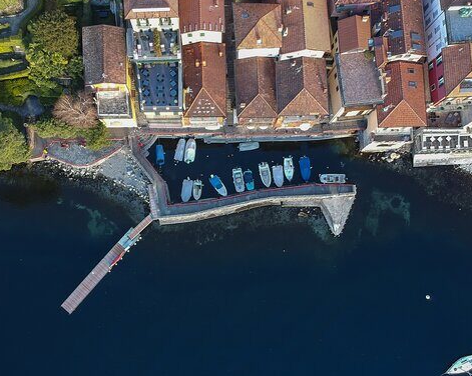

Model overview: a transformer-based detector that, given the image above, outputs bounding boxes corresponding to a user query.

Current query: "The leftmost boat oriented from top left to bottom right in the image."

[210,176,226,196]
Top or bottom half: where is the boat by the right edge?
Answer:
bottom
